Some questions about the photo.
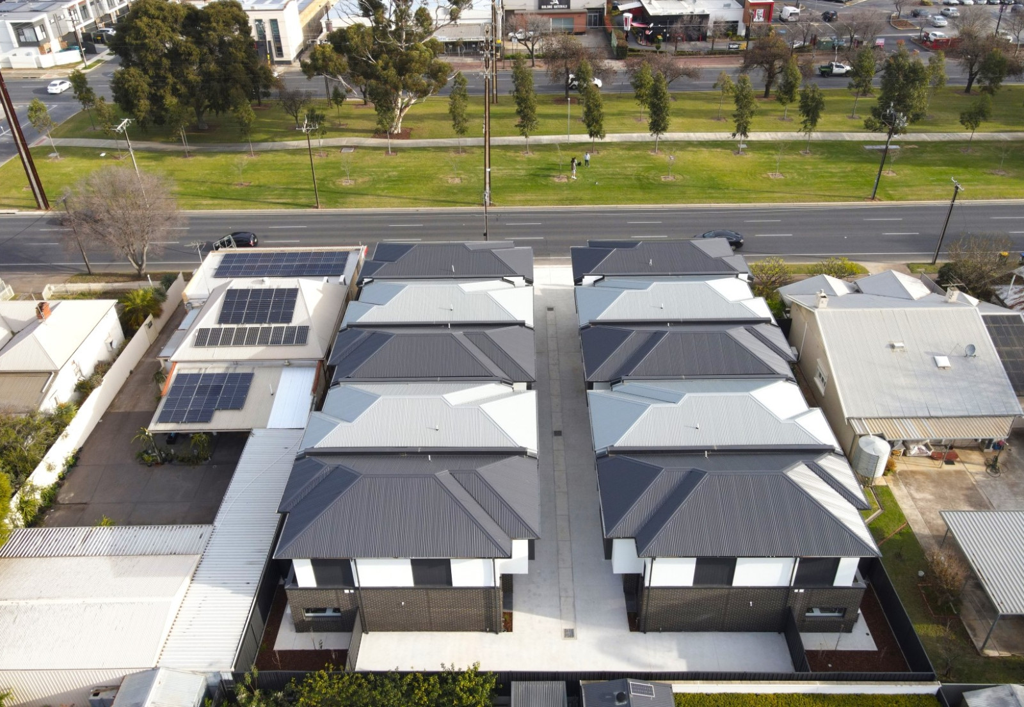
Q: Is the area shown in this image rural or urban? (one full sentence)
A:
The area is urban.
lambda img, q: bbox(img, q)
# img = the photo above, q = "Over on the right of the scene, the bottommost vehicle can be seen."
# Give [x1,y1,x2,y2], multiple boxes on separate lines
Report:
[691,230,744,249]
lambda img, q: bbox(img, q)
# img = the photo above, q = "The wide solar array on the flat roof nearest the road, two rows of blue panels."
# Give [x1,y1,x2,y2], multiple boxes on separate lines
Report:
[212,249,353,276]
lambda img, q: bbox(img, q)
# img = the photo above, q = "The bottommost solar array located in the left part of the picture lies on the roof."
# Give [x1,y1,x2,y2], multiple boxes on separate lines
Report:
[156,371,258,422]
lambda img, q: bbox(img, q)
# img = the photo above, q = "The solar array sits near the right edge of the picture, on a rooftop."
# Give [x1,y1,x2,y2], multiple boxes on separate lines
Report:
[983,322,1024,404]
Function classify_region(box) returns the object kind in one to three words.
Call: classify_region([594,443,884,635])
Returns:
house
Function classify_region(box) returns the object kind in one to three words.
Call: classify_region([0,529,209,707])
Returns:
shed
